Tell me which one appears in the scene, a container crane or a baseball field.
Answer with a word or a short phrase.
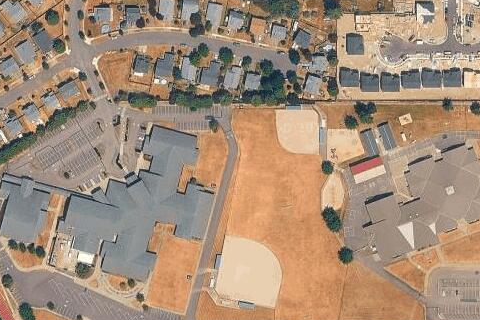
baseball field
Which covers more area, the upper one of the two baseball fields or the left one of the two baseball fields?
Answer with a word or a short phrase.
the left one of the two baseball fields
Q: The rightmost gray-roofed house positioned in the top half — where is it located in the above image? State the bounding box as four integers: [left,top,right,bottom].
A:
[443,68,460,88]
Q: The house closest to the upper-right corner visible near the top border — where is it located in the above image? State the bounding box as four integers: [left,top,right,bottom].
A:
[416,2,434,23]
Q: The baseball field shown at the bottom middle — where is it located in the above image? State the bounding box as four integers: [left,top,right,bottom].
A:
[210,236,282,308]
